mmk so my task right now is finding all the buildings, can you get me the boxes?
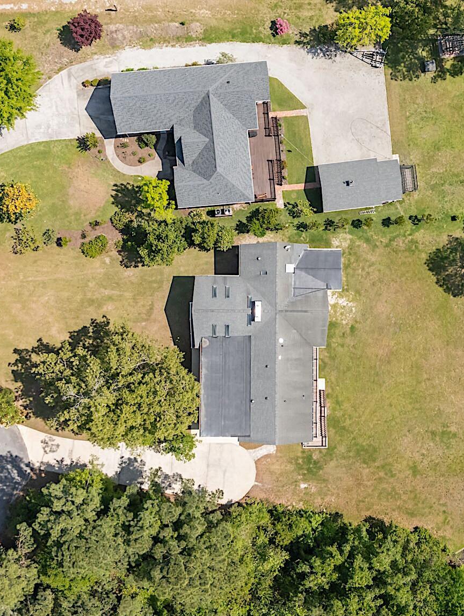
[111,60,282,209]
[423,59,436,74]
[318,158,403,212]
[190,244,343,449]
